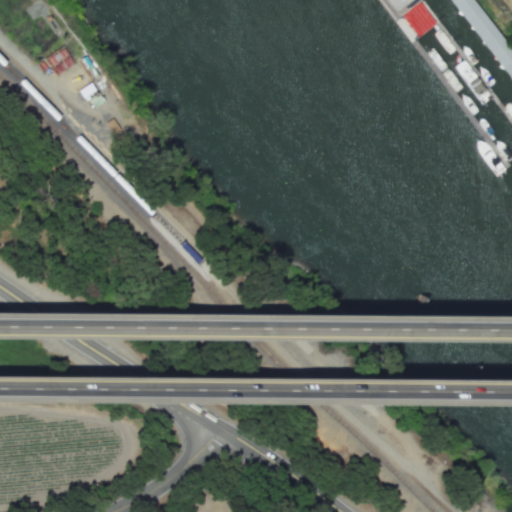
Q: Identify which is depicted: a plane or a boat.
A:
boat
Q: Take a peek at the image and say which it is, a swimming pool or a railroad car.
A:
railroad car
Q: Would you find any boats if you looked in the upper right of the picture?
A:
Yes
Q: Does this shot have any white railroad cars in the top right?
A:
No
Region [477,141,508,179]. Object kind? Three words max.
boat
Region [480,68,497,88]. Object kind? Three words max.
boat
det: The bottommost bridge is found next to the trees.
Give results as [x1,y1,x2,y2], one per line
[0,377,512,406]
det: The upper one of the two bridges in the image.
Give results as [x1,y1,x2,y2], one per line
[0,314,512,342]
